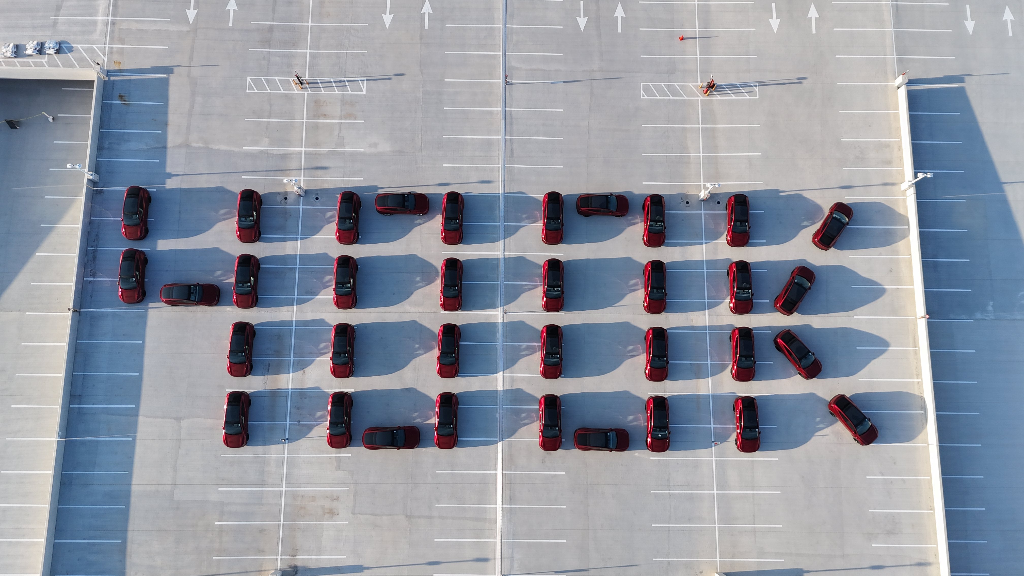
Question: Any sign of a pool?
No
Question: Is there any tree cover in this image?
No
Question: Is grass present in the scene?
No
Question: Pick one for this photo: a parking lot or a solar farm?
parking lot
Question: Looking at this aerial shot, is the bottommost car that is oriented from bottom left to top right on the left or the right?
right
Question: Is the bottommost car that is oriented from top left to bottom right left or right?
right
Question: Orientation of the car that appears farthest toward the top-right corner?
on a diagonal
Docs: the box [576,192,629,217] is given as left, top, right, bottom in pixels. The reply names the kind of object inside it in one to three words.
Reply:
car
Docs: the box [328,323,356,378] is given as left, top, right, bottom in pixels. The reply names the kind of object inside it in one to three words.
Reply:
car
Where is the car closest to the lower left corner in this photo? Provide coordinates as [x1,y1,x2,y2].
[220,391,251,448]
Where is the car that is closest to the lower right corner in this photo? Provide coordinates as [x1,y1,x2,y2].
[828,394,879,446]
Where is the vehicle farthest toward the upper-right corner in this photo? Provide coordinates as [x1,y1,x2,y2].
[811,201,855,251]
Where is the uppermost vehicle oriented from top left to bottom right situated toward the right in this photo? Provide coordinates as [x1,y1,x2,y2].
[773,329,823,380]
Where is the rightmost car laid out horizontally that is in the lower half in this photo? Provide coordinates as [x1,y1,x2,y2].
[574,427,629,453]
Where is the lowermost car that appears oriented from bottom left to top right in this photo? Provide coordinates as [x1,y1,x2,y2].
[773,266,817,316]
